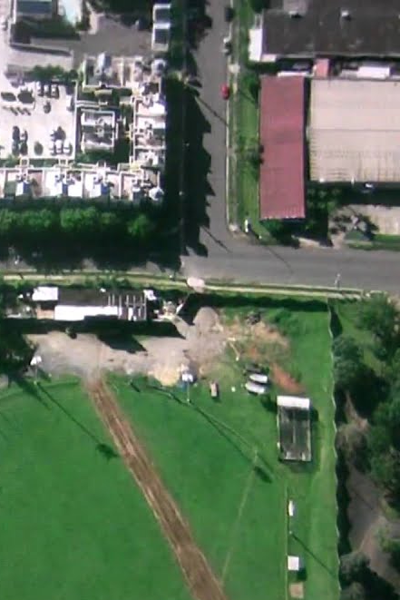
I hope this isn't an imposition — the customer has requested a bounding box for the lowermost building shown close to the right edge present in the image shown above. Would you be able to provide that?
[307,79,400,188]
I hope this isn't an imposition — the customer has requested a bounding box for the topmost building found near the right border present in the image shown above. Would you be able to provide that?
[261,0,400,64]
